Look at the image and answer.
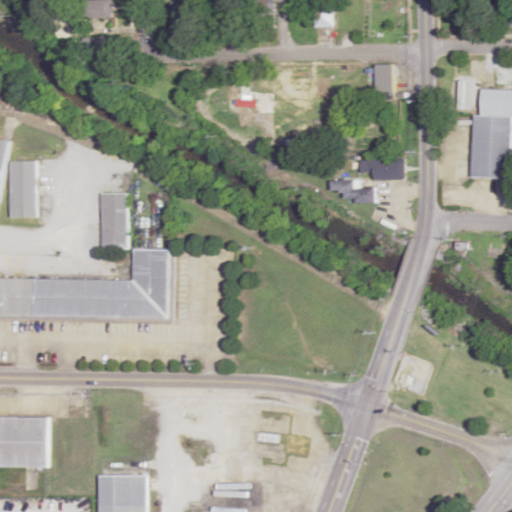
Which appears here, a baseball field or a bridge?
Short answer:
bridge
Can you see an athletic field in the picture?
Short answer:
No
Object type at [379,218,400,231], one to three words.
vehicle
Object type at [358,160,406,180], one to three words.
house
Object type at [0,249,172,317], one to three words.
building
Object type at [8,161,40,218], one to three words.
shed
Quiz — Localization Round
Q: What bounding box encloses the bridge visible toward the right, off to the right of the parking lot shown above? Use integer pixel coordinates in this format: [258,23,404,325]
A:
[386,234,443,306]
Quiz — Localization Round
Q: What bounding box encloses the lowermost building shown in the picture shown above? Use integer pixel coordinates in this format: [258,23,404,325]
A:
[98,472,150,512]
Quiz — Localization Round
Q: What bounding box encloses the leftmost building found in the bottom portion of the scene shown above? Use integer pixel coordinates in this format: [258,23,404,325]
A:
[0,416,52,470]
